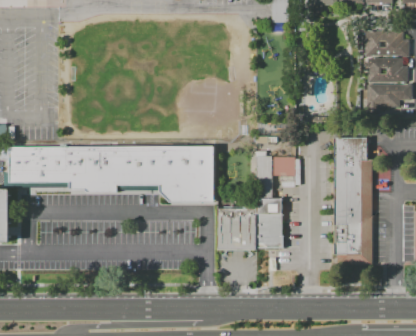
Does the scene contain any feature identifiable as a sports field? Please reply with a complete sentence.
Yes, there's a sports field down there.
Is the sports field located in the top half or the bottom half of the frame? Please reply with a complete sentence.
It is in the top half that the sports field appears.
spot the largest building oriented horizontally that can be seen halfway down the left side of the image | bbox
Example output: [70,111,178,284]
[4,147,218,206]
